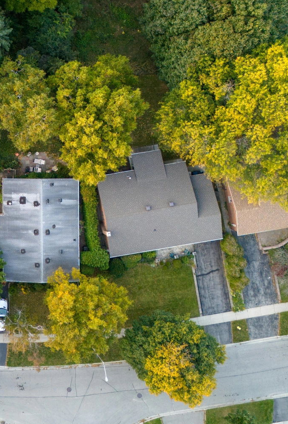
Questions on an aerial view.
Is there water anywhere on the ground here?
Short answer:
No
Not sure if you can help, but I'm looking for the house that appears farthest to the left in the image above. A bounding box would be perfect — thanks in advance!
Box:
[0,178,79,282]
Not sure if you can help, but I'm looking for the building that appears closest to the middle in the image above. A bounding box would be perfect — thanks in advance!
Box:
[95,149,222,258]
